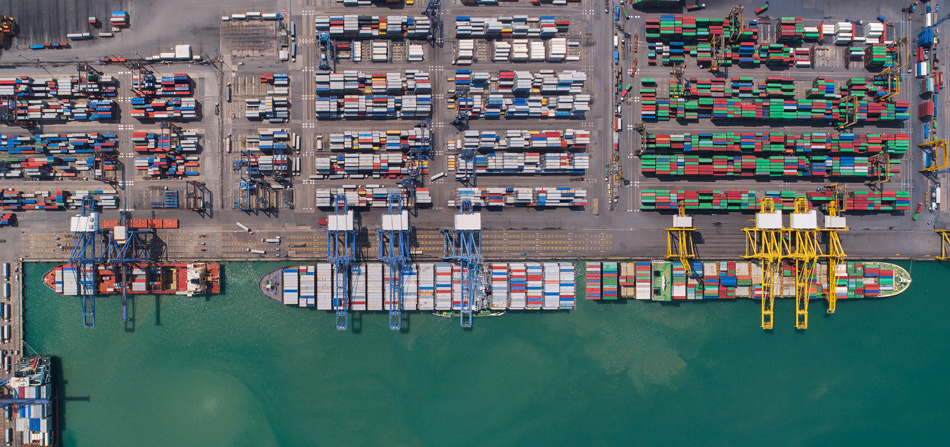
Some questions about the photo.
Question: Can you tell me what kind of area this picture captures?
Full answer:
This looks like a port.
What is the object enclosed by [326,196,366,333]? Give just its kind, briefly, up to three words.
container crane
